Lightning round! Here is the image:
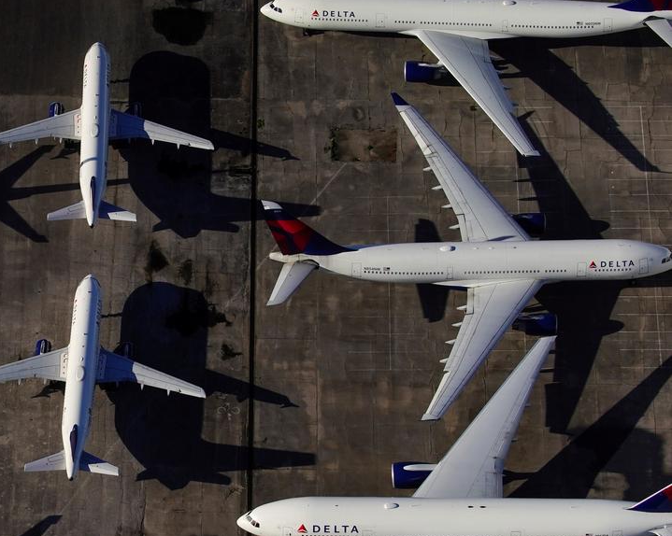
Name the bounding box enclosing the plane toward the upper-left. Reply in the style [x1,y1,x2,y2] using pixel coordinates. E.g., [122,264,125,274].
[0,44,211,226]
